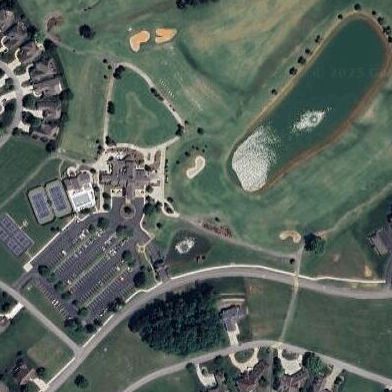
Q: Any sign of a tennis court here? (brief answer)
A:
Yes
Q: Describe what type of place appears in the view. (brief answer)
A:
golf course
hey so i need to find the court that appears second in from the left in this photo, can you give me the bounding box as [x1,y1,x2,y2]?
[29,187,54,223]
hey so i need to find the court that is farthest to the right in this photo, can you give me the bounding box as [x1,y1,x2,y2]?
[47,181,71,216]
